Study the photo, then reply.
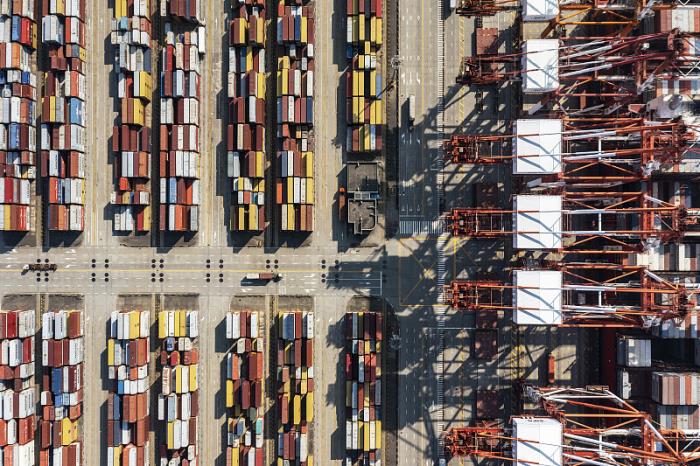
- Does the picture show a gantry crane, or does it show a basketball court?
gantry crane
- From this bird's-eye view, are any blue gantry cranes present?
No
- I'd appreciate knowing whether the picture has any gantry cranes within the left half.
No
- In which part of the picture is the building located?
center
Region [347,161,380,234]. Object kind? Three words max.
building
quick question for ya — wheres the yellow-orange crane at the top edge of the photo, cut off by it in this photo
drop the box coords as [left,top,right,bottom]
[449,0,700,75]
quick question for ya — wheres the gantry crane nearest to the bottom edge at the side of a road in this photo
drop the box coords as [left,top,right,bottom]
[440,366,700,466]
